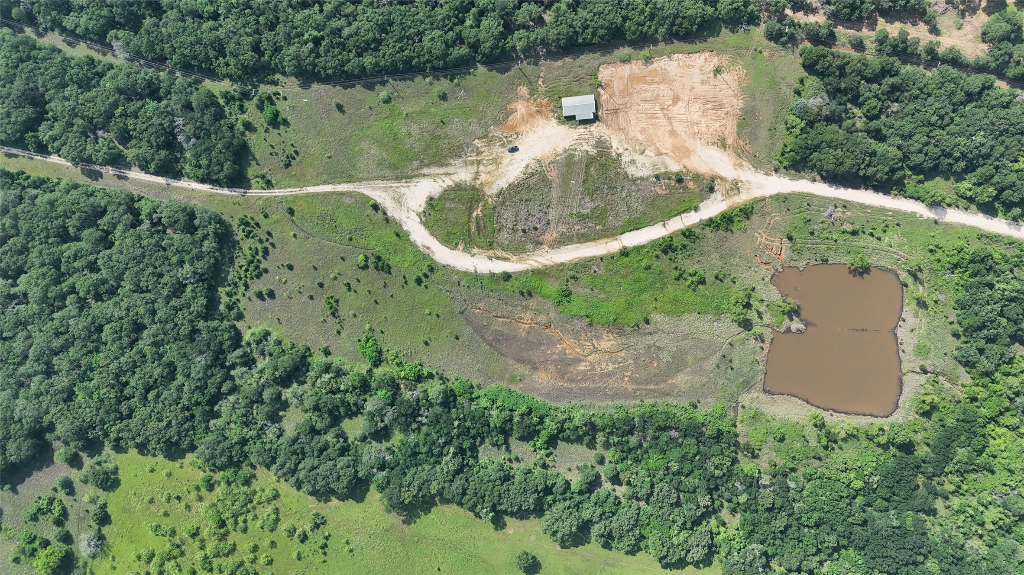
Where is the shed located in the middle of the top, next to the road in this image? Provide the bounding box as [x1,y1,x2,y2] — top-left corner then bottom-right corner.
[561,95,596,123]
